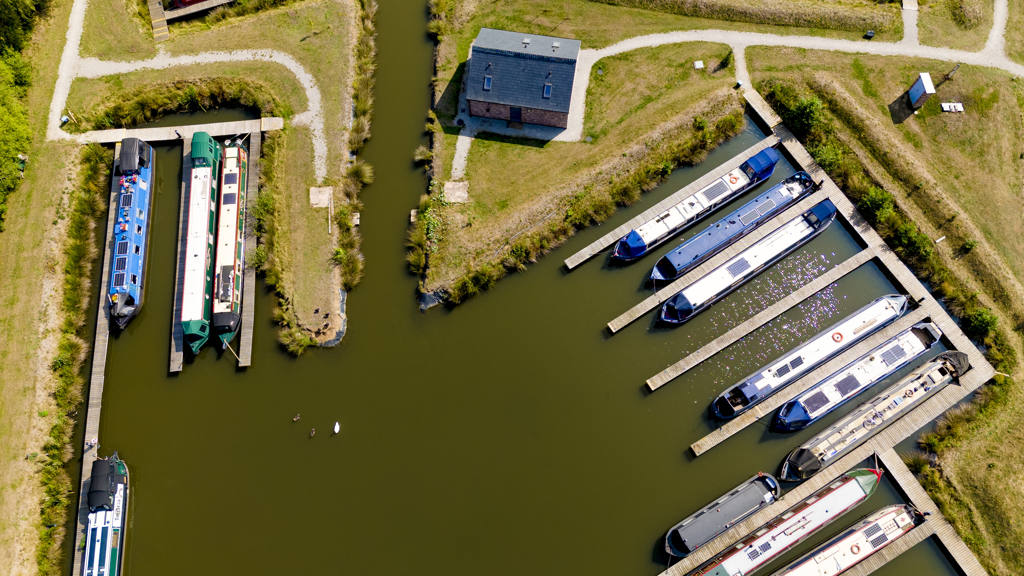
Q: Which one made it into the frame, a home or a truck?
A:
home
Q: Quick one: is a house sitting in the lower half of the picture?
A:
No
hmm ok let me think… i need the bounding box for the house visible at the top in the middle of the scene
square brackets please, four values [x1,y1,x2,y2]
[466,27,580,129]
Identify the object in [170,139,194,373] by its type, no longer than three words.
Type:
pier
